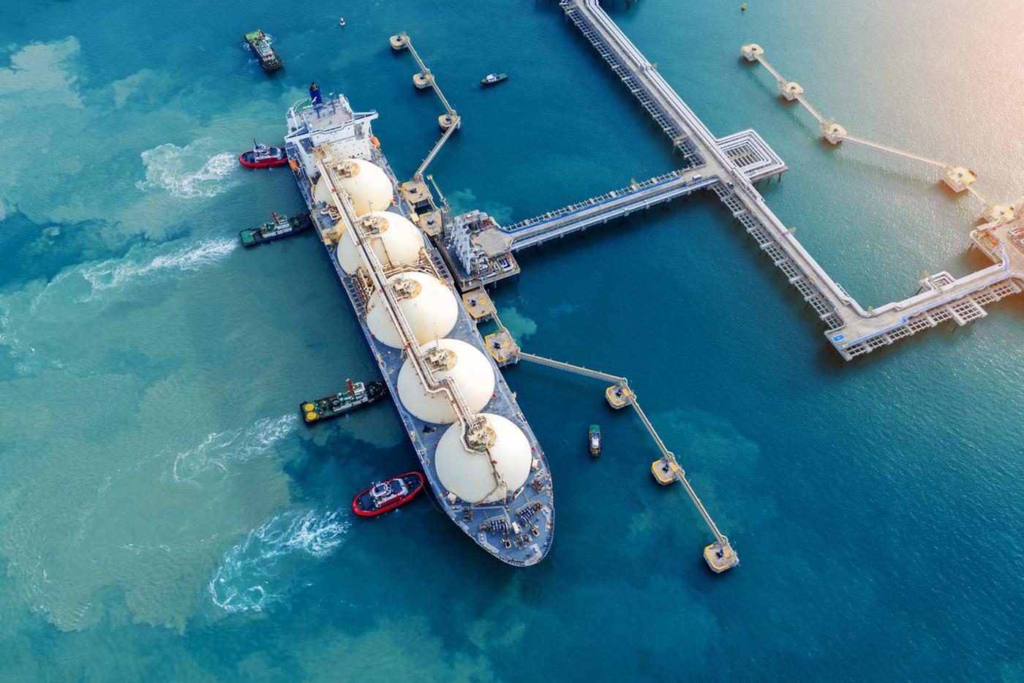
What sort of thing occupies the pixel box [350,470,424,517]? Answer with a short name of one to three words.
boat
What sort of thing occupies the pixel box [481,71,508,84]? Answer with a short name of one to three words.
boat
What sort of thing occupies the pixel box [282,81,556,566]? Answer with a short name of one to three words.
ship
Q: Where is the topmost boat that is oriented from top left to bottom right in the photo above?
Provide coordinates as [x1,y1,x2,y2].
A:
[242,23,280,71]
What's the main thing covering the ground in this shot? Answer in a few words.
water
